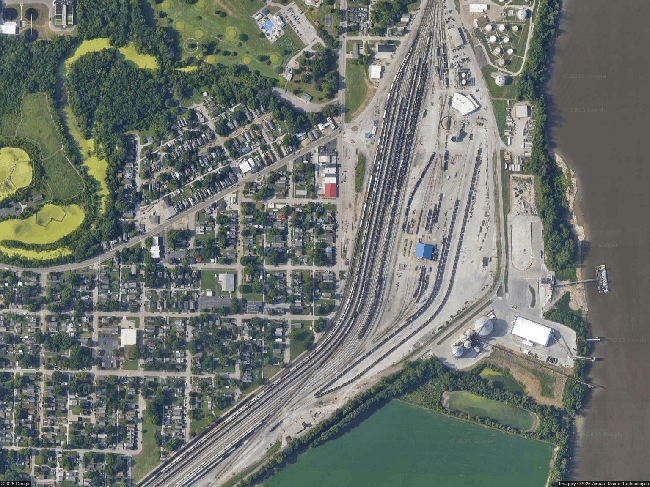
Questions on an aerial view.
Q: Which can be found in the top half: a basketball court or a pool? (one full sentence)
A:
There is a pool in the top half.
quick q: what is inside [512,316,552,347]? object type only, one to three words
building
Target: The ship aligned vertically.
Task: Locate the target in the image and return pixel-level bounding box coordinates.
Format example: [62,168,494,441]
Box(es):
[595,265,608,292]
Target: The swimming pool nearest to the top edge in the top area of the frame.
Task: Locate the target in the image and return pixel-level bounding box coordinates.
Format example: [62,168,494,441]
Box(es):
[255,10,284,43]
